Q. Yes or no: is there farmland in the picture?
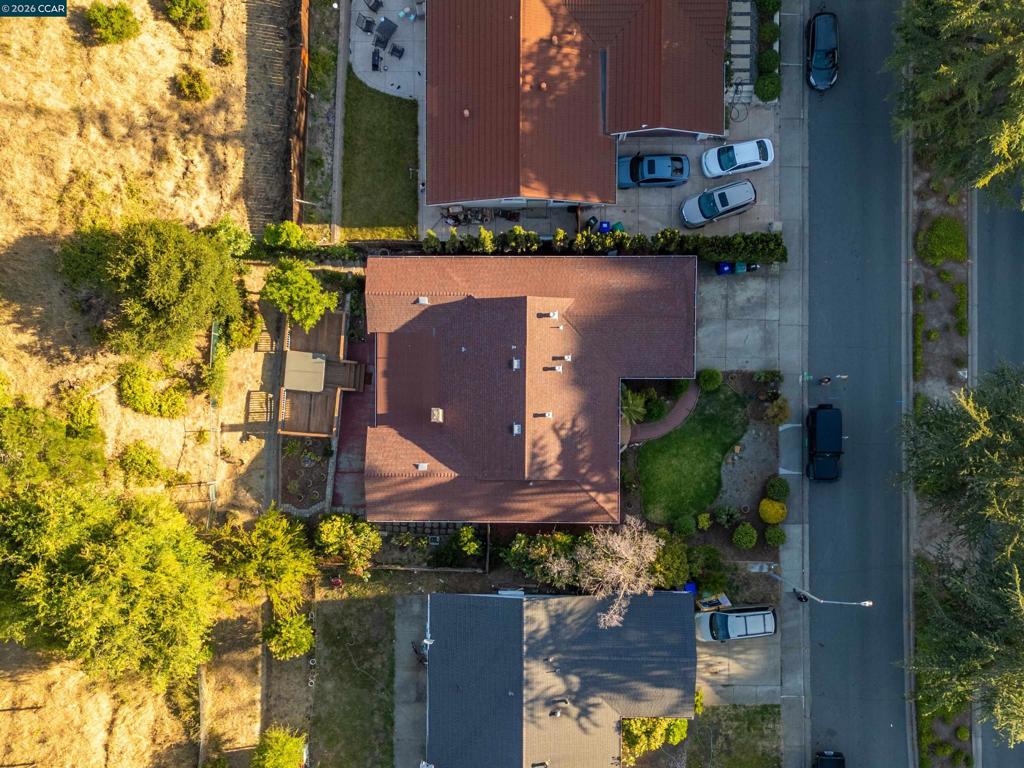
No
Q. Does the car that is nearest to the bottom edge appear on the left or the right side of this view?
right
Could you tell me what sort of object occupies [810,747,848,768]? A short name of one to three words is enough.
car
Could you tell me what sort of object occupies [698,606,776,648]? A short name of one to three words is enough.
car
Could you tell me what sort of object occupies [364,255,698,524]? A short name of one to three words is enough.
house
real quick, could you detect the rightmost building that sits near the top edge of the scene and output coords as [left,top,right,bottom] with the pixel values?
[424,0,728,204]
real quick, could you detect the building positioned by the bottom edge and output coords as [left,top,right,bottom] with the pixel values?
[425,584,702,768]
